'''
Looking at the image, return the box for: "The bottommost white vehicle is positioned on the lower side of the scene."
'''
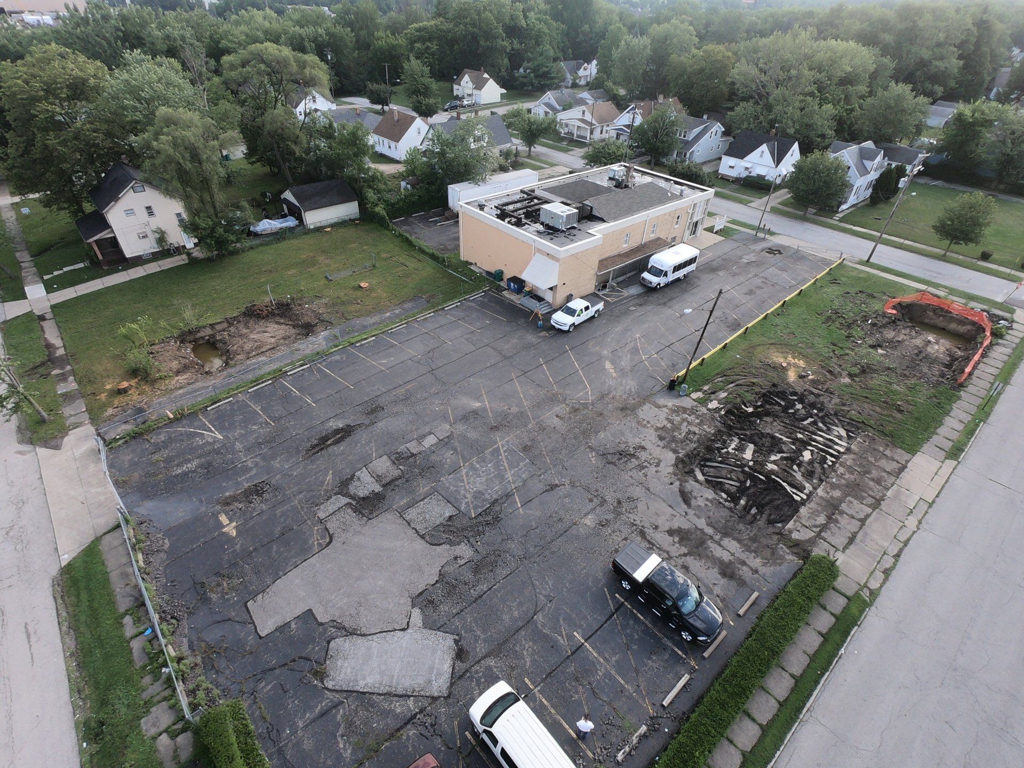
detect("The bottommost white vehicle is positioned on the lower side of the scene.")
[468,676,584,768]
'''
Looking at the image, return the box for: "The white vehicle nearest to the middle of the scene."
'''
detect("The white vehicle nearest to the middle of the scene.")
[548,292,607,330]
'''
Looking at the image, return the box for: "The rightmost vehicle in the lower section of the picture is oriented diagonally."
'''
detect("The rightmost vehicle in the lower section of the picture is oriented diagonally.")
[608,534,732,652]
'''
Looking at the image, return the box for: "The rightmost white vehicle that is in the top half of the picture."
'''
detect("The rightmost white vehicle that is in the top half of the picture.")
[634,239,699,287]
